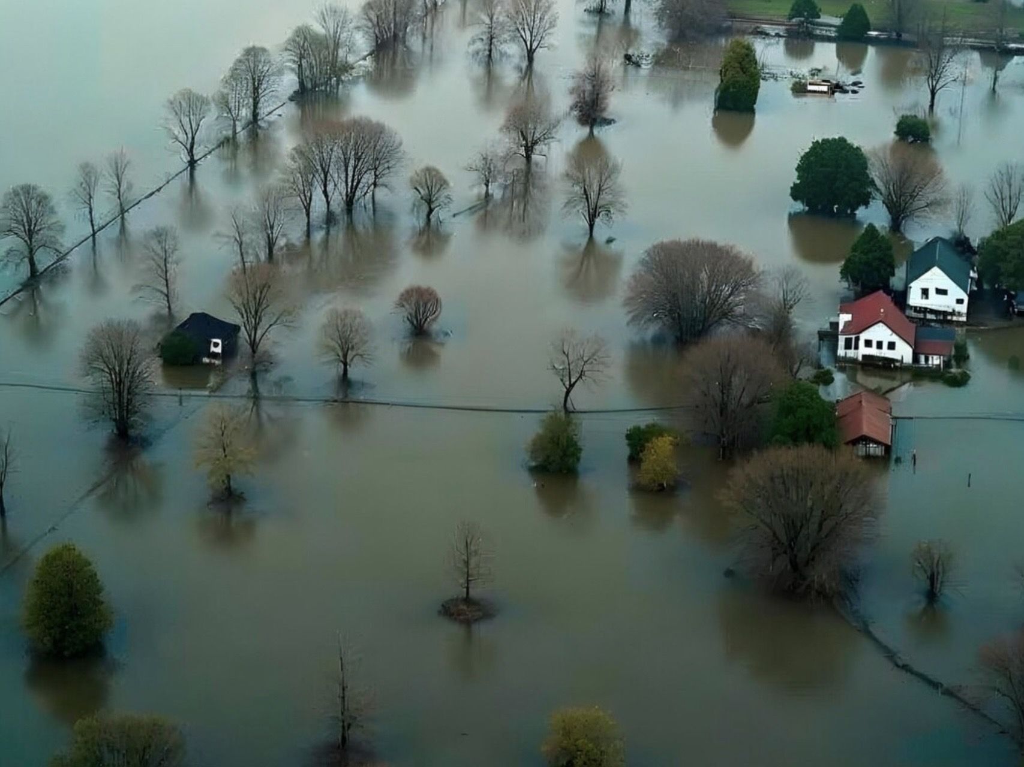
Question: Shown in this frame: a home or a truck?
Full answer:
It is a home that can be seen here.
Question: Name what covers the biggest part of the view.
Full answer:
What you mostly see from above here is water.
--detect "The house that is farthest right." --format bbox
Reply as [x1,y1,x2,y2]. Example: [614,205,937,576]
[906,235,978,325]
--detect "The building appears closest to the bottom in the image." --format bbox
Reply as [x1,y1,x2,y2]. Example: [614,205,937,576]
[839,387,898,461]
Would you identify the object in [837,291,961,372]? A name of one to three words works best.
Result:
house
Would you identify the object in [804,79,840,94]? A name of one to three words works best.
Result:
shed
